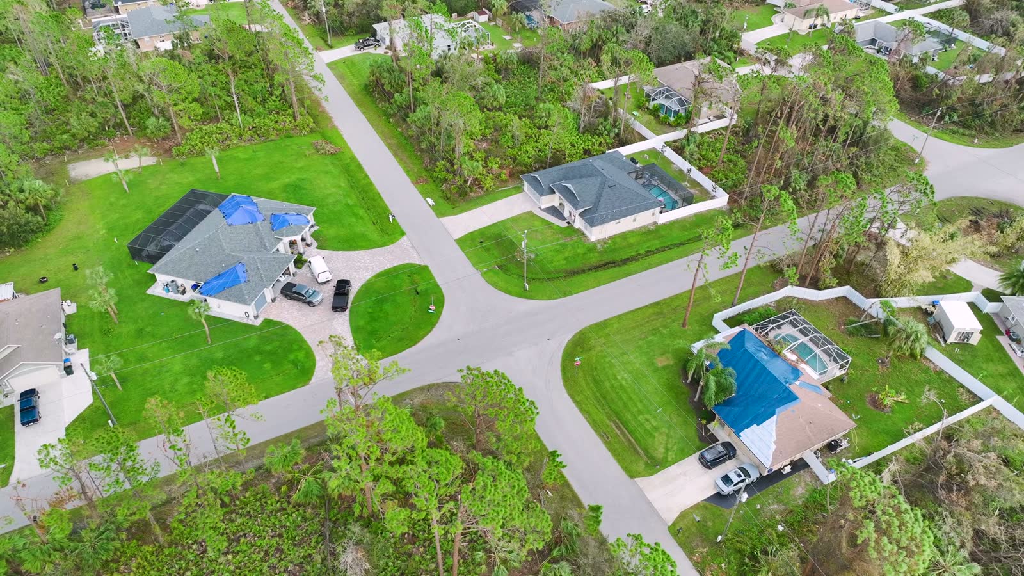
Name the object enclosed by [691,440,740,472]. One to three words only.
car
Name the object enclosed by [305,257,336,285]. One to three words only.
vehicle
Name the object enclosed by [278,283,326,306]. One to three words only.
truck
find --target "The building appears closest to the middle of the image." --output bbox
[519,150,662,243]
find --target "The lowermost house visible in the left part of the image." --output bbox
[0,287,66,392]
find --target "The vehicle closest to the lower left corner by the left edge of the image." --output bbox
[16,388,42,432]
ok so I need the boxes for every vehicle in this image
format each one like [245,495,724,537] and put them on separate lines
[305,257,336,285]
[691,440,740,472]
[278,283,326,306]
[331,280,352,313]
[354,39,377,51]
[709,465,763,495]
[16,388,42,432]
